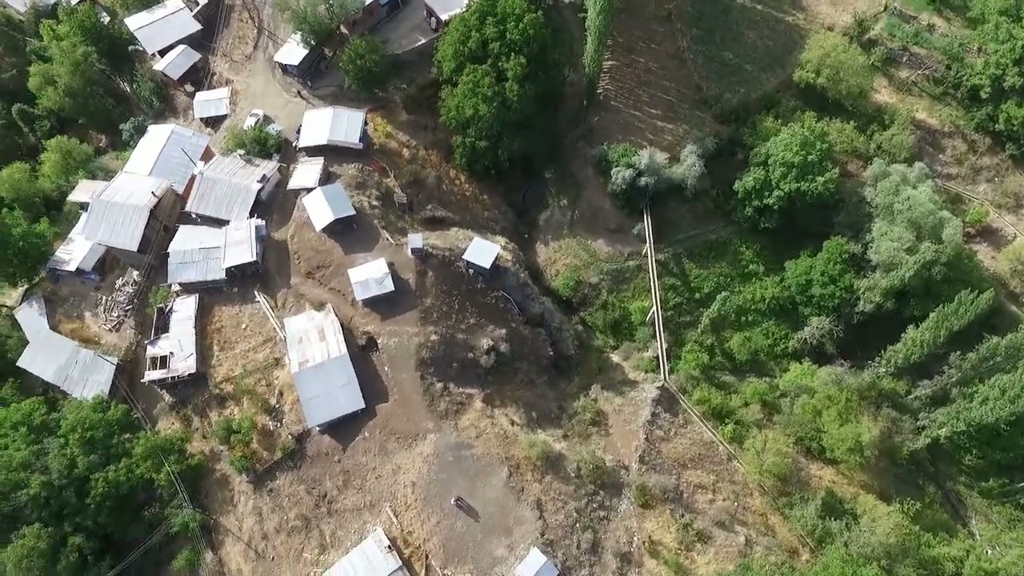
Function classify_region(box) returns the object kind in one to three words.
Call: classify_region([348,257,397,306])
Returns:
shed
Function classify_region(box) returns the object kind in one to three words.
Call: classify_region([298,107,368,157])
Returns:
house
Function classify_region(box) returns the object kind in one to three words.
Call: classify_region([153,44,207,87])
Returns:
shed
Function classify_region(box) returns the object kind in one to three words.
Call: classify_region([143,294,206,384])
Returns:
barn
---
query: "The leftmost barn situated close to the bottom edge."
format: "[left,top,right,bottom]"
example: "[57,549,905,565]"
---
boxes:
[310,527,410,576]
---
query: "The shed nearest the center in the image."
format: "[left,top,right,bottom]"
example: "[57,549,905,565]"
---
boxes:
[462,237,500,281]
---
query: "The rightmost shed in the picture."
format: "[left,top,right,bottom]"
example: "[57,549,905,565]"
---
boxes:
[514,547,559,576]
